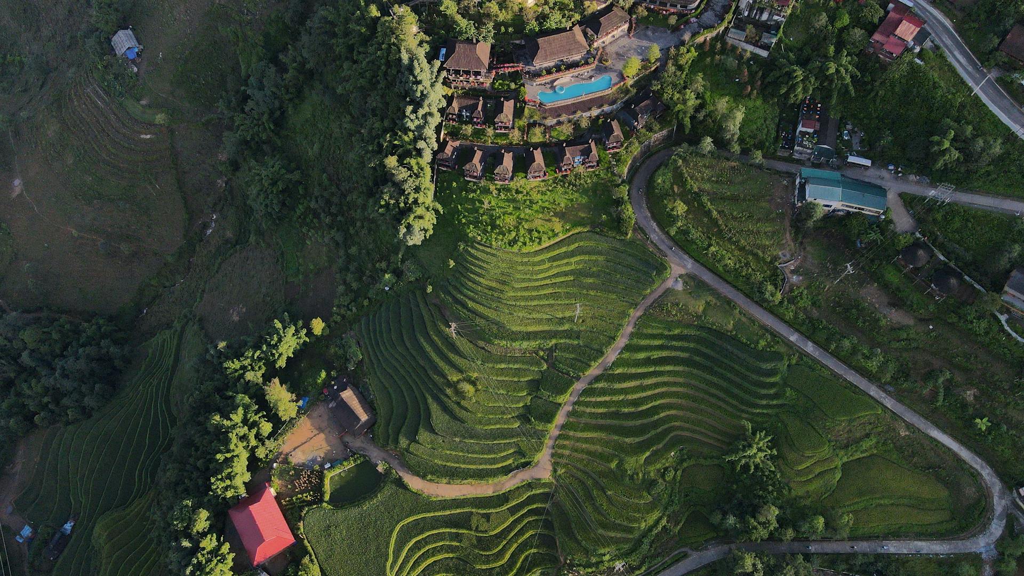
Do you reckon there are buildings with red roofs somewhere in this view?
Yes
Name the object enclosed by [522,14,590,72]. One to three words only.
building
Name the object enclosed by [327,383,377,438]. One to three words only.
shed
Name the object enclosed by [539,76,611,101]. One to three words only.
swimming pool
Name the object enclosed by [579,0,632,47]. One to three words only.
building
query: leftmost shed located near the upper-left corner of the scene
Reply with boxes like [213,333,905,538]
[111,29,139,60]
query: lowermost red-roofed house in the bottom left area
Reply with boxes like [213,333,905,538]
[228,478,298,567]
